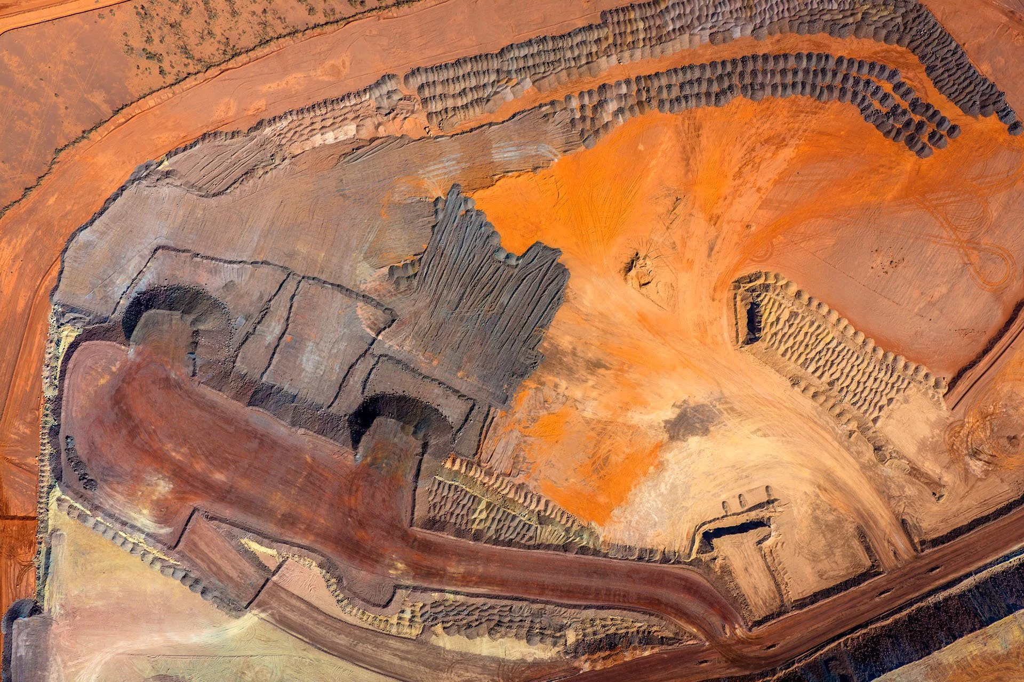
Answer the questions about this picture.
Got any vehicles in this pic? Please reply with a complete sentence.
No, the photo shows no vehicle.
